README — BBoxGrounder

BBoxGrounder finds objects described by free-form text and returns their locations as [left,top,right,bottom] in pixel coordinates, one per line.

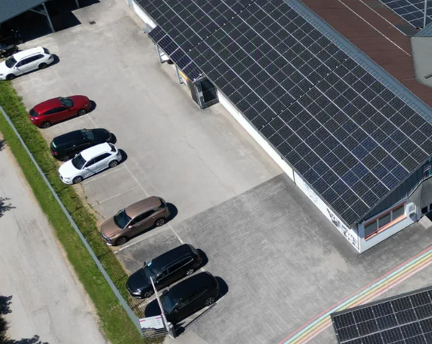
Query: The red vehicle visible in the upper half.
[29,97,89,129]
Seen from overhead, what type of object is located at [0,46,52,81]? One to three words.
car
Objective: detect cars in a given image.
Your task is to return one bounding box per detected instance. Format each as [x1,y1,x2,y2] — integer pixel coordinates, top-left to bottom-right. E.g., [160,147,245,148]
[100,198,171,247]
[29,97,89,129]
[60,145,122,184]
[124,246,203,302]
[144,274,223,332]
[0,46,52,81]
[46,127,112,163]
